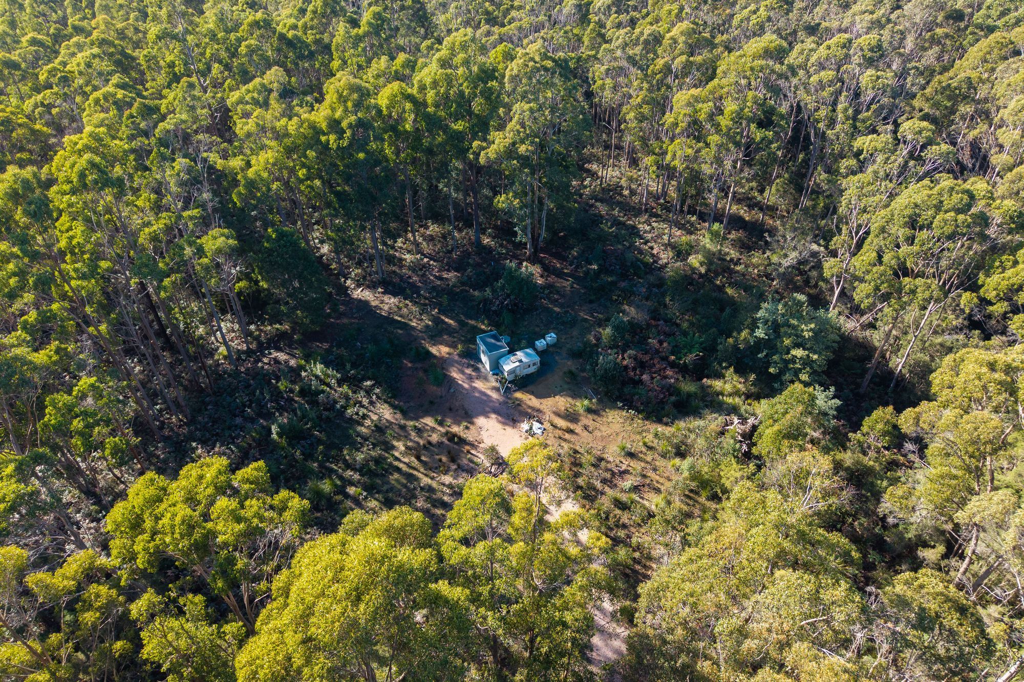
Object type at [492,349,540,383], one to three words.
camper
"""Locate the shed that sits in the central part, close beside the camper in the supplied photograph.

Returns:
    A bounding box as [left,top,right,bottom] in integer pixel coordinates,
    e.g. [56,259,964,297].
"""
[477,330,508,373]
